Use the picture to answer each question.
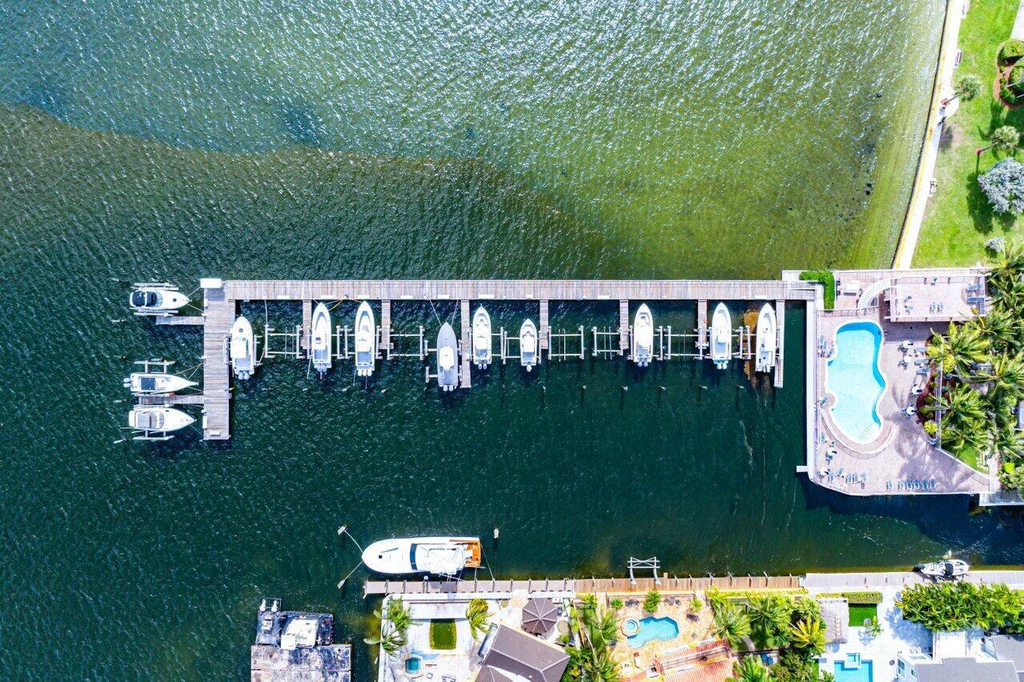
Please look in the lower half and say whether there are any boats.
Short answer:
Yes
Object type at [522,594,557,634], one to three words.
gazebo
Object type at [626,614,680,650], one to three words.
swimming pool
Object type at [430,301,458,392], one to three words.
boat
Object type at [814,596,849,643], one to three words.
shed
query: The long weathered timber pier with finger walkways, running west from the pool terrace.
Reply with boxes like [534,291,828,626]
[139,271,813,441]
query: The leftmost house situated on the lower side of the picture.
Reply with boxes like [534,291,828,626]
[476,617,570,682]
